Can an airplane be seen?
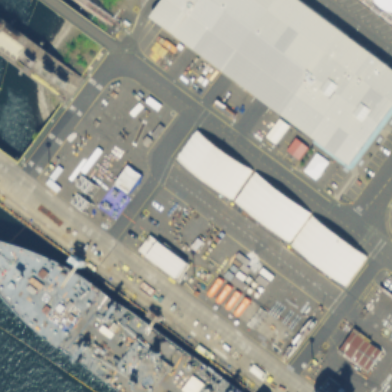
No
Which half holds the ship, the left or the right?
left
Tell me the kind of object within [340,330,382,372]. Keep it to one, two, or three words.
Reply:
shed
